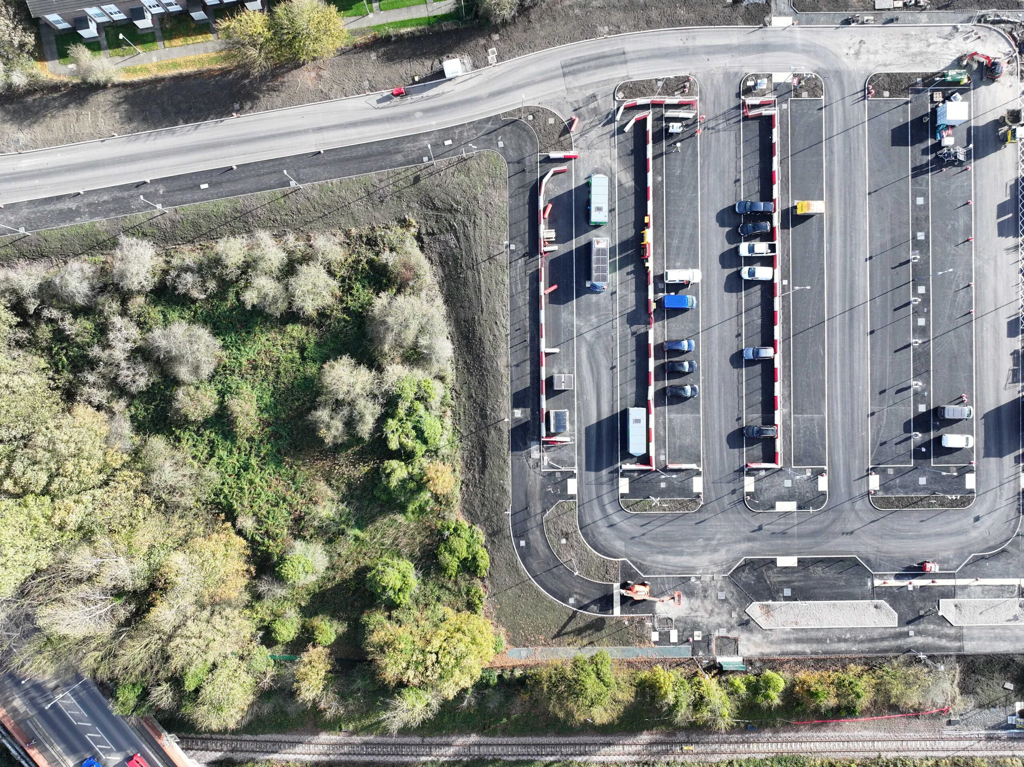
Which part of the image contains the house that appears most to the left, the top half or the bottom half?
top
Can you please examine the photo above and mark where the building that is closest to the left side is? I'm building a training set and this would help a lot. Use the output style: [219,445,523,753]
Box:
[27,0,115,45]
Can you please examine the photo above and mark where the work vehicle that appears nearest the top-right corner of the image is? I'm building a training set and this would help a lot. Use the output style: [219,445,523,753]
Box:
[959,51,1012,79]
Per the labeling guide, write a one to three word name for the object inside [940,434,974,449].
vehicle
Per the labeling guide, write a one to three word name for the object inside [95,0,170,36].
house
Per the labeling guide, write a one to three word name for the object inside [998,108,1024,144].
truck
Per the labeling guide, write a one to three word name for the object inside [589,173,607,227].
building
